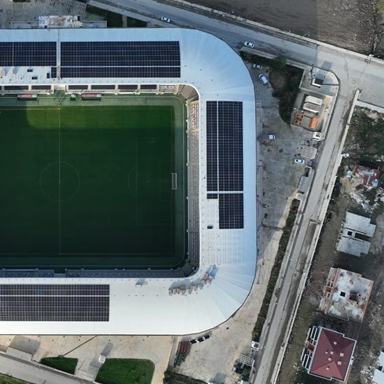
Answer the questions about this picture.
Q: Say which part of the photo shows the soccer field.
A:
left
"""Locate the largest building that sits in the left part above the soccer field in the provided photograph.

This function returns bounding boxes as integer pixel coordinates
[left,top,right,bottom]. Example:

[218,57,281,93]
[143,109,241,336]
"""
[38,14,83,27]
